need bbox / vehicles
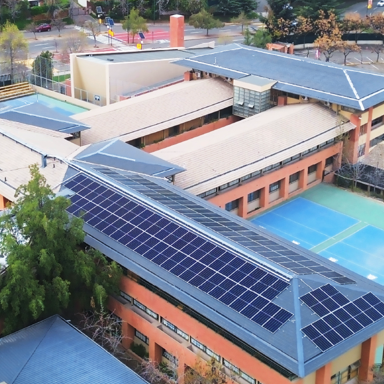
[377,0,384,6]
[34,23,52,32]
